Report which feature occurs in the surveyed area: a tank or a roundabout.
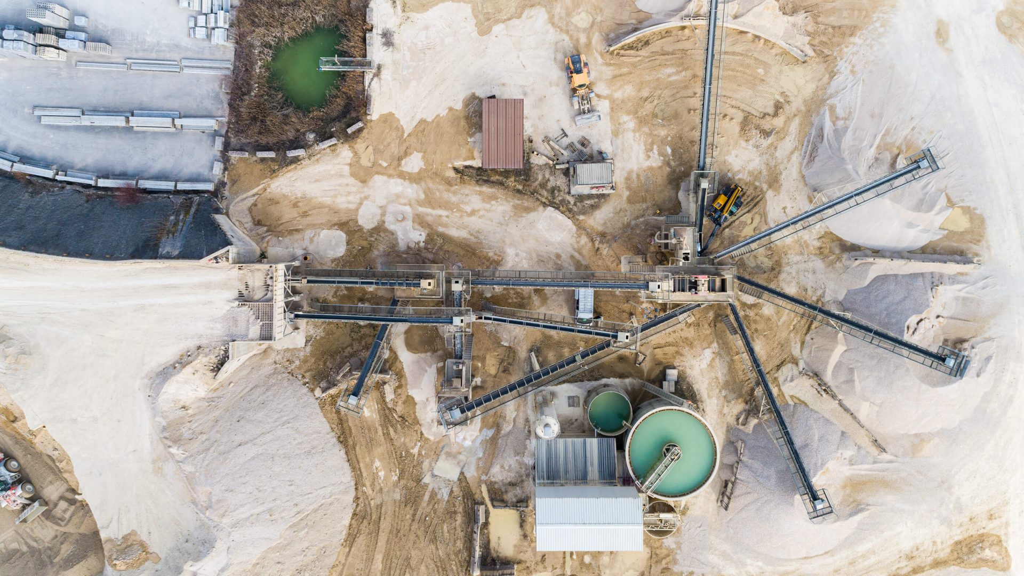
tank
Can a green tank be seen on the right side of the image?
Yes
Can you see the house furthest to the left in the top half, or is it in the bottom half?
bottom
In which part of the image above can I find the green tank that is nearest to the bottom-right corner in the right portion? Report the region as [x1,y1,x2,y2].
[617,380,720,503]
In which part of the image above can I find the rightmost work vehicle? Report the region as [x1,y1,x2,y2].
[706,183,748,248]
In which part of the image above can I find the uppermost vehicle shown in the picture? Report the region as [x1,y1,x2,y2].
[562,48,599,127]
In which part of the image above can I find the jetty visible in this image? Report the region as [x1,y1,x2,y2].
[318,56,373,74]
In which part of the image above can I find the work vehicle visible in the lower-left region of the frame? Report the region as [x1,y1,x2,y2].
[0,456,48,525]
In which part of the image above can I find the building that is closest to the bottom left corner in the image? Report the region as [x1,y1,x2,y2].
[437,355,472,445]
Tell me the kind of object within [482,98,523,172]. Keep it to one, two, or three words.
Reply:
shed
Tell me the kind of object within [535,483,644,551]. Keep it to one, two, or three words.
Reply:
shed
